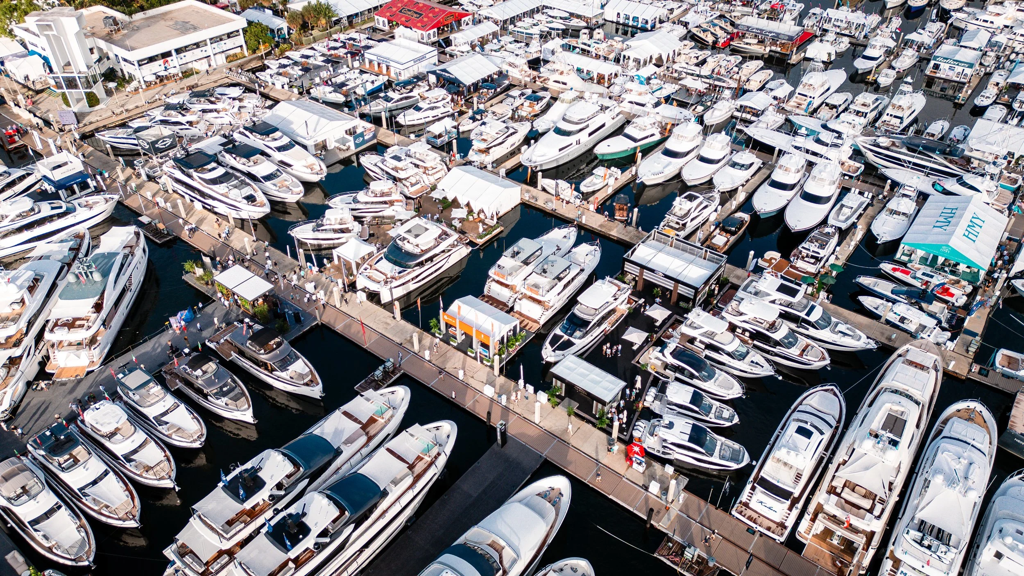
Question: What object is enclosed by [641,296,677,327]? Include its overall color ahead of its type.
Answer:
white umbrella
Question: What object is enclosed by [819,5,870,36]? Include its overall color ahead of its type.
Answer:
white tent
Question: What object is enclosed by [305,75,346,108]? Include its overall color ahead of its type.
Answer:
white boat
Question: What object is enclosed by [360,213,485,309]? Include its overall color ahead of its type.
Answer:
white boat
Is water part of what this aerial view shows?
Yes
